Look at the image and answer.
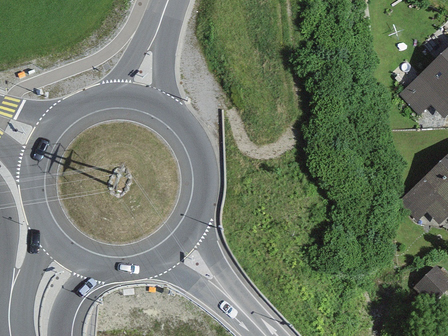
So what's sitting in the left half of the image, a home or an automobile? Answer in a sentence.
Looking in the left half of the image, you will find an automobile.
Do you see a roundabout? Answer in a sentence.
Yes, a roundabout can be made out from above.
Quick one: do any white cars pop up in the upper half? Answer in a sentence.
No, no white car can be made out in the upper half.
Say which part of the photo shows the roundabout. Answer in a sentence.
The roundabout is in the left part of the image.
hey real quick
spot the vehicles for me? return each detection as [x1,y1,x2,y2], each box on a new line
[32,138,48,162]
[218,299,238,320]
[28,230,40,254]
[118,264,140,274]
[78,277,98,298]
